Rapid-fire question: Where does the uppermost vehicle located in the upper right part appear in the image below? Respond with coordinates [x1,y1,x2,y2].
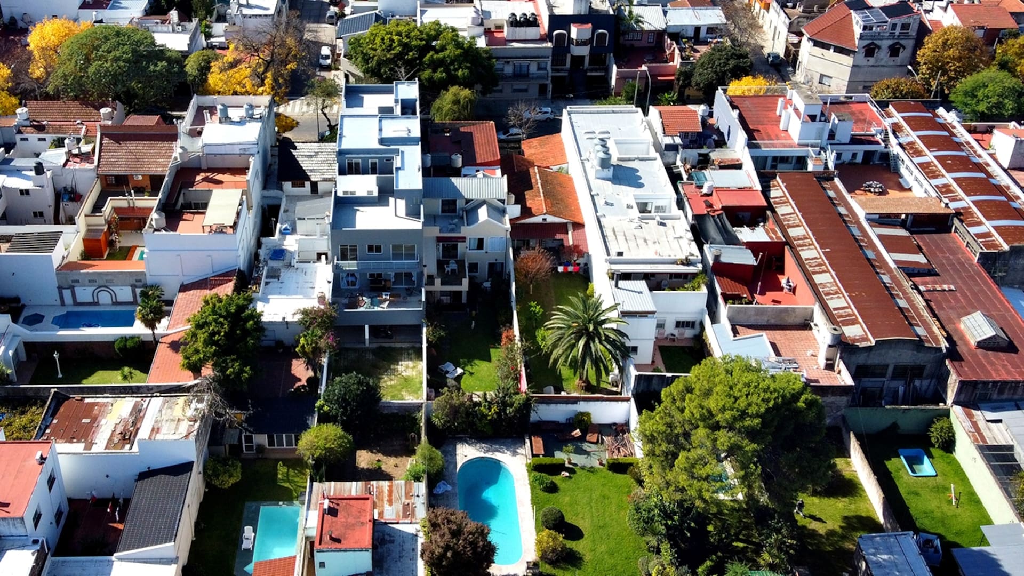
[768,48,783,65]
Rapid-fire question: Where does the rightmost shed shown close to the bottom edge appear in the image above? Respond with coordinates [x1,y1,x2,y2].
[852,531,932,576]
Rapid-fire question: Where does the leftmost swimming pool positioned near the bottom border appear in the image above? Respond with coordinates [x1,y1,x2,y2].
[244,505,300,576]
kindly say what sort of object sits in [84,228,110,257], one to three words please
shed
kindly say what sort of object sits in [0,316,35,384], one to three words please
house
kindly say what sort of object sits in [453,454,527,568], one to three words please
swimming pool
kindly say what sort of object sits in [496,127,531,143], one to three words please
car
